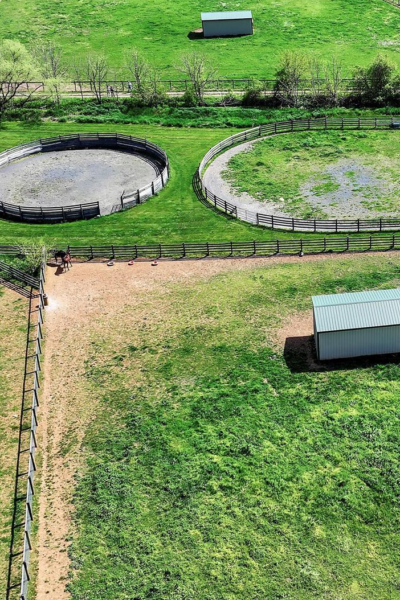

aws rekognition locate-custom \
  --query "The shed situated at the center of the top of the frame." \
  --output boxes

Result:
[201,11,253,36]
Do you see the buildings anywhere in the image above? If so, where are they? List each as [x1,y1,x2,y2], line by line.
[201,11,253,36]
[311,294,400,361]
